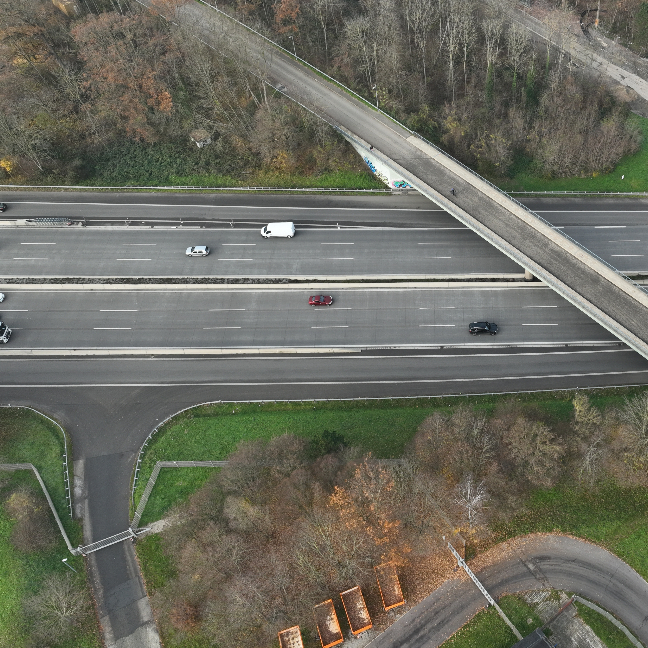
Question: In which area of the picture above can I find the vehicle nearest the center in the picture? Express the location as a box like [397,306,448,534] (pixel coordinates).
[306,295,333,308]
